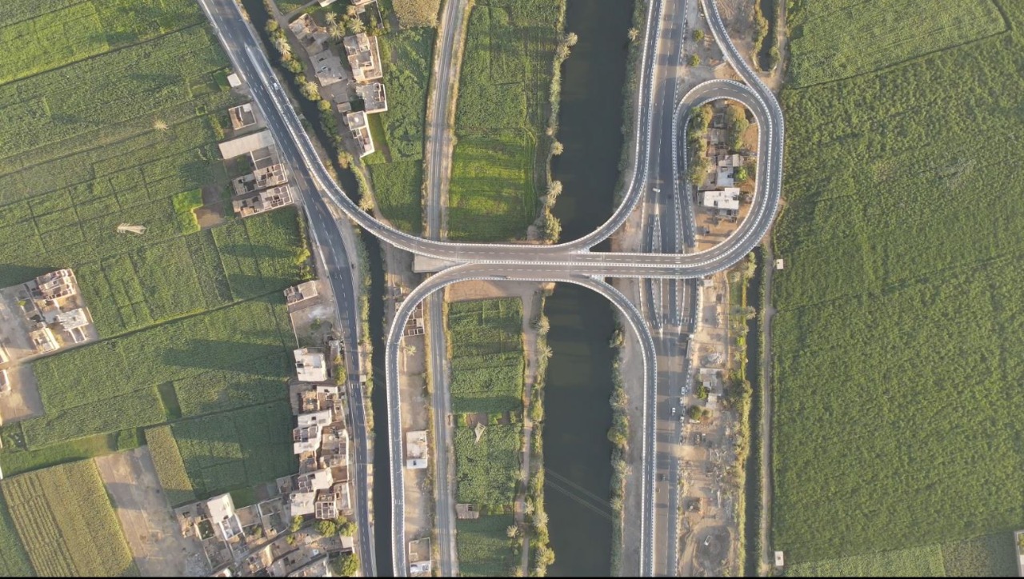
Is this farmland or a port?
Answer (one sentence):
What you see here is farmland.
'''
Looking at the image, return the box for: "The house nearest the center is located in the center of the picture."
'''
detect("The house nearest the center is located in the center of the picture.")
[396,300,425,336]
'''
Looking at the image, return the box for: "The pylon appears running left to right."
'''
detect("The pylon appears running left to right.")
[116,222,147,236]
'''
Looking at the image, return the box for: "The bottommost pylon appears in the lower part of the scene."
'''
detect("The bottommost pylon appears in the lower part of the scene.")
[473,423,487,446]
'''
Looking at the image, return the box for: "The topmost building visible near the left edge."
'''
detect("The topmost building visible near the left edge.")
[37,269,85,300]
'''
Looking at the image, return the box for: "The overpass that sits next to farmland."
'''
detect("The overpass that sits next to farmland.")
[241,0,784,579]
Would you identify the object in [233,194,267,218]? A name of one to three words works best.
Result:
house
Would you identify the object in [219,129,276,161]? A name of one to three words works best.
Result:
hangar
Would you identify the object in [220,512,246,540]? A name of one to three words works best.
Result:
house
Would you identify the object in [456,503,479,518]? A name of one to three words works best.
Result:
shed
